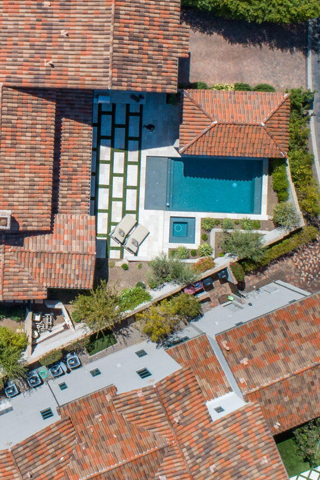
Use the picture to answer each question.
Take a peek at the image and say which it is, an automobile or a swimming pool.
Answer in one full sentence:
I can see a swimming pool in this picture.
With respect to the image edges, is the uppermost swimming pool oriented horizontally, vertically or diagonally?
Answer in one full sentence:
From this overhead view, the uppermost swimming pool appears to run horizontally.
